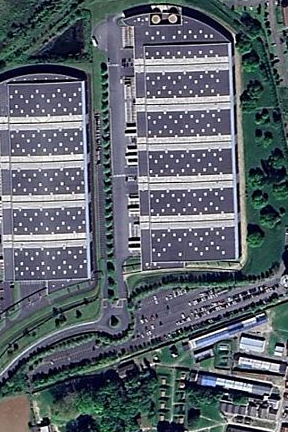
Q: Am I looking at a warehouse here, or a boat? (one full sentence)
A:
There is a warehouse in the scene.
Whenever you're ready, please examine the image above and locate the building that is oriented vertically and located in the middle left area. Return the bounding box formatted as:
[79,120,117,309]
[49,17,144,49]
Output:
[0,71,97,295]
